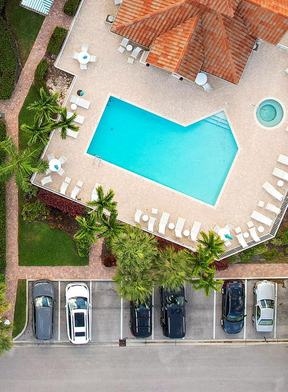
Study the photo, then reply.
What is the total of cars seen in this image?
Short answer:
6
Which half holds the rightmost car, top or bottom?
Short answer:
bottom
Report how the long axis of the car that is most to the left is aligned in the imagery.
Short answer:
up and down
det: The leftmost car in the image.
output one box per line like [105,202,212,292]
[30,280,57,339]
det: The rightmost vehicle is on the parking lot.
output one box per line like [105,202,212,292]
[251,277,278,332]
